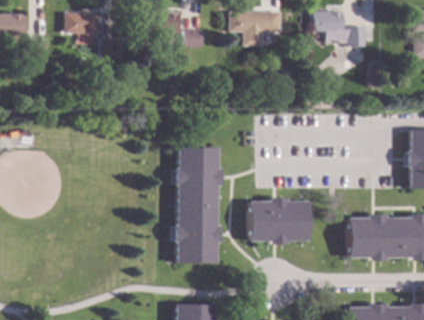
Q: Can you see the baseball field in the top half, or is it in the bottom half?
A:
bottom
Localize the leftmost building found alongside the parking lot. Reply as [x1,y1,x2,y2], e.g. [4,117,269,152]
[175,148,224,262]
